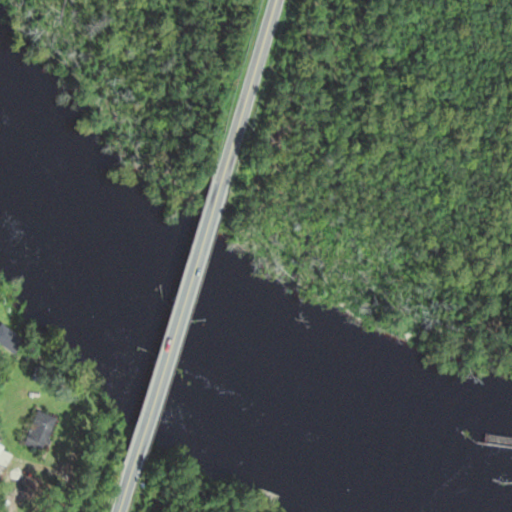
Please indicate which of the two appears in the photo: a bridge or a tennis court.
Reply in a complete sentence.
The image shows a bridge.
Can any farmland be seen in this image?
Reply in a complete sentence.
No, there's no farmland in this view.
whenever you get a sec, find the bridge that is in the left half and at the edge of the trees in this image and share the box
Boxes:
[124,174,234,475]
